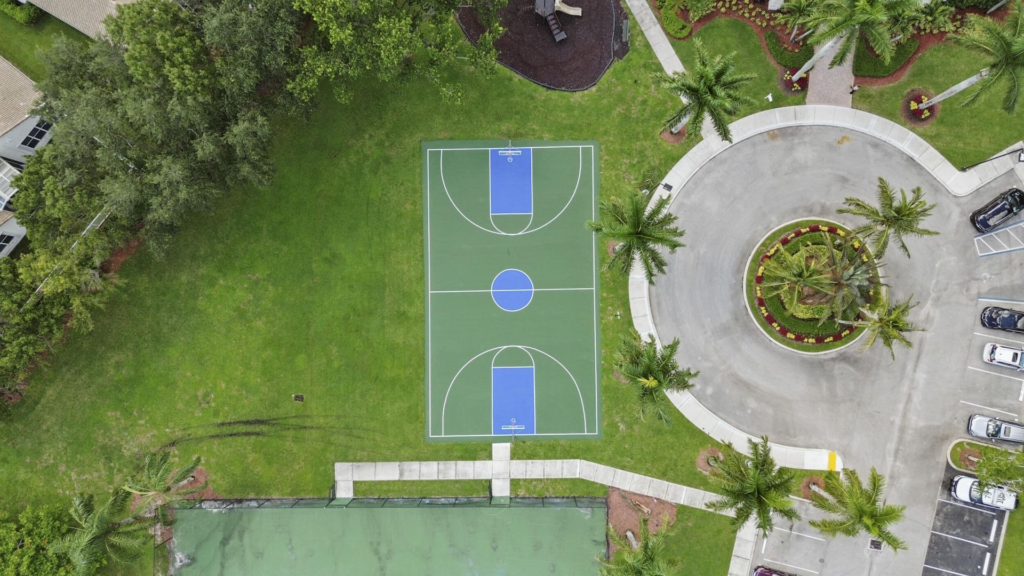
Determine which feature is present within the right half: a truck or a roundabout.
roundabout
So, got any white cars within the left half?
No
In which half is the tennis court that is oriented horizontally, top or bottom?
bottom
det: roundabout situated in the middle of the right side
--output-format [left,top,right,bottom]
[654,131,963,440]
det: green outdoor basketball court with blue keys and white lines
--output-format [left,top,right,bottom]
[422,140,602,442]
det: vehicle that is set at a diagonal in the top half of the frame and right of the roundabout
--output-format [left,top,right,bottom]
[973,189,1024,232]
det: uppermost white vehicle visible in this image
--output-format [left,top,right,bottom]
[982,343,1024,374]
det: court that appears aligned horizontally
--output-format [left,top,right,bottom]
[171,496,606,576]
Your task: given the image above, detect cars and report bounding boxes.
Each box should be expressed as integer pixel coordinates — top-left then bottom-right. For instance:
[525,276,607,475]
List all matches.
[954,475,1019,510]
[982,343,1024,374]
[981,306,1024,333]
[973,189,1024,232]
[968,417,1024,448]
